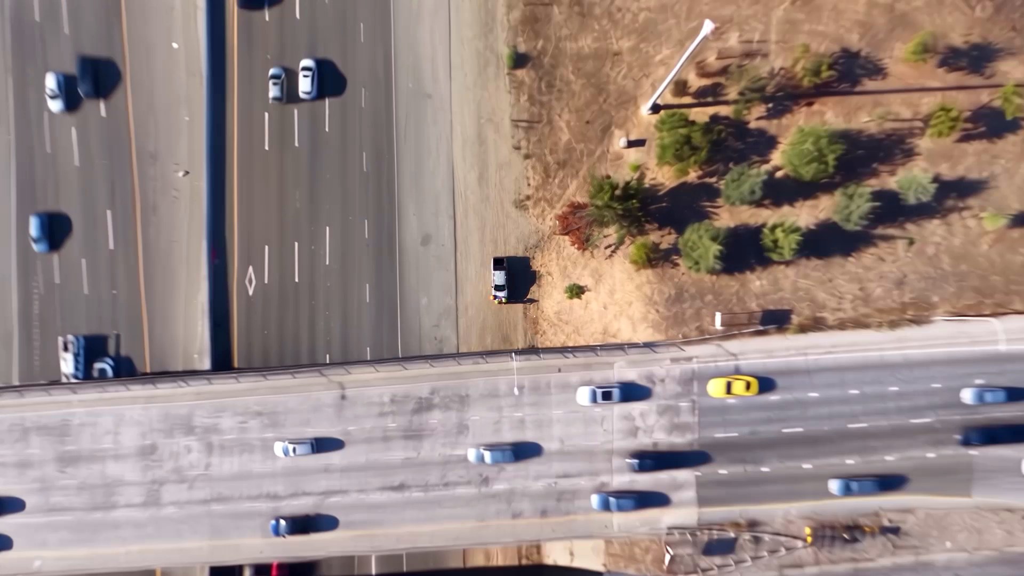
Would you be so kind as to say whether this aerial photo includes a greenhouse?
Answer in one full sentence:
No, the frame has no greenhouse in it.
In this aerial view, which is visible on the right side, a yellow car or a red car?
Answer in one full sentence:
It is a yellow car that can be seen on the right side.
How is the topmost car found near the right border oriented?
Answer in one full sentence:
I'd say the topmost car found near the right border is aligned horizontally in the picture.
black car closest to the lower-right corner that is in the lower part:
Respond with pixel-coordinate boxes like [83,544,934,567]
[961,424,1015,449]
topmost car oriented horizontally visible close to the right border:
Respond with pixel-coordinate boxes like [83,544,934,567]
[959,385,1010,408]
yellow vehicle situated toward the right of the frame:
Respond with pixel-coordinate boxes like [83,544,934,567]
[707,374,758,399]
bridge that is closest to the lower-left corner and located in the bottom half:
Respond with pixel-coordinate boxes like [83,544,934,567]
[0,339,697,574]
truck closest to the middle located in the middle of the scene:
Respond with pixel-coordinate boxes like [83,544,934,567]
[490,253,511,302]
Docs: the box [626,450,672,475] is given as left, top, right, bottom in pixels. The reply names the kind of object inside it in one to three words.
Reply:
car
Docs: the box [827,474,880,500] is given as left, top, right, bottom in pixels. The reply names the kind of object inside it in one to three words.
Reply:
car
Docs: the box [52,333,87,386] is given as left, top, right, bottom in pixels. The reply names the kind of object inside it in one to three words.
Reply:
truck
